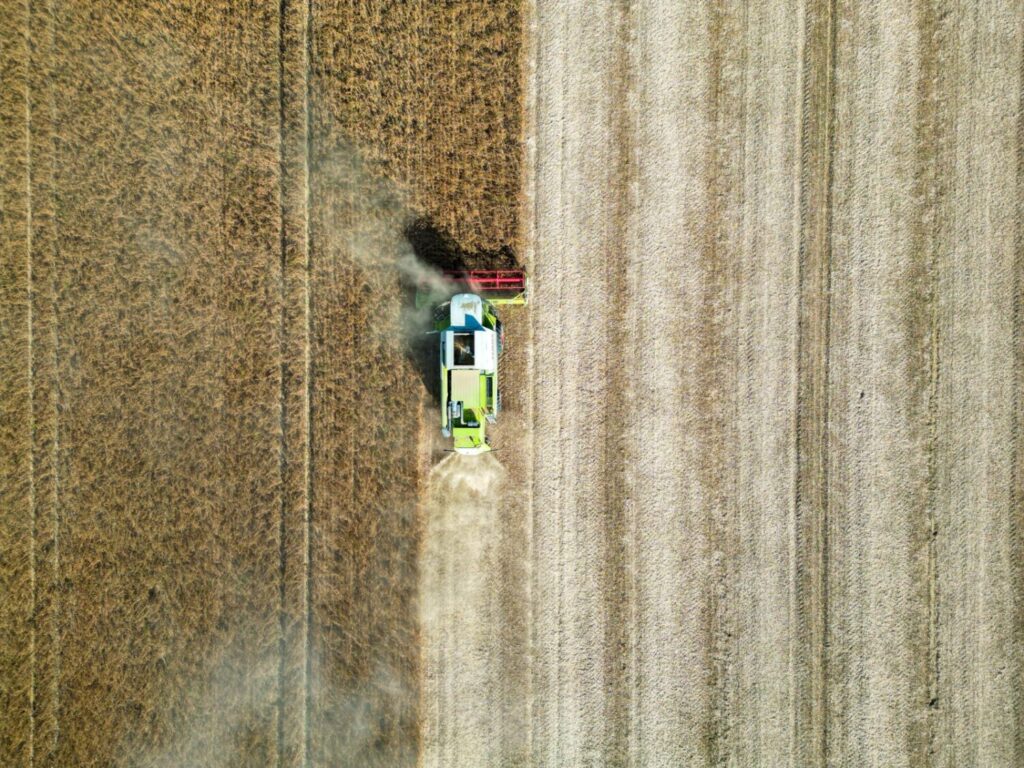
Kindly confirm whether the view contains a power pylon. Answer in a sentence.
No, no power pylon is visible in the scene.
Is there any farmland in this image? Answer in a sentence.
Yes, farmland can be seen from above here.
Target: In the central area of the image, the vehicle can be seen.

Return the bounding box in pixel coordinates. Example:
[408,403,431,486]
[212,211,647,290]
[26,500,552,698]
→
[415,264,528,457]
